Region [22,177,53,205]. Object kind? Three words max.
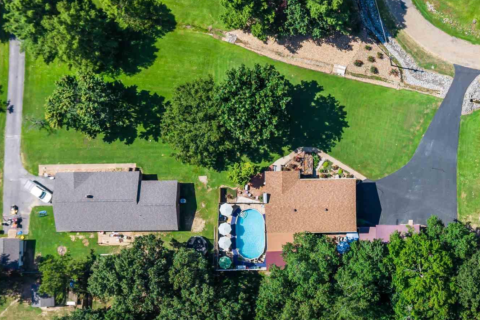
truck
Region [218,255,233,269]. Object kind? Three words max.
umbrella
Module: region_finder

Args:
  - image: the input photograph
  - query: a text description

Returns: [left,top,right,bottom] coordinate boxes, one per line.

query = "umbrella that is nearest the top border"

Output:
[219,201,234,217]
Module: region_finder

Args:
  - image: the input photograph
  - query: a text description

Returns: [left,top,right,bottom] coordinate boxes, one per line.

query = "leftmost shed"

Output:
[0,238,26,273]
